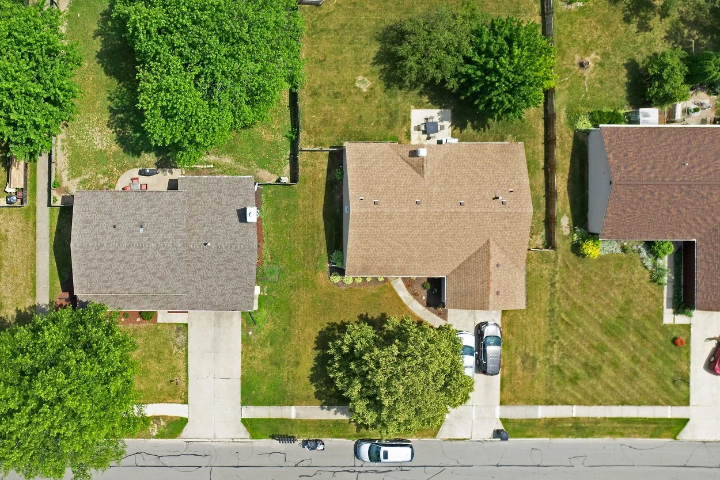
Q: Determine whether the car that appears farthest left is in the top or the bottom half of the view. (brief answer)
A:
bottom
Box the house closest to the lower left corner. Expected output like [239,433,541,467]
[70,175,260,311]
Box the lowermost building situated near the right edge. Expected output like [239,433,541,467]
[589,124,720,311]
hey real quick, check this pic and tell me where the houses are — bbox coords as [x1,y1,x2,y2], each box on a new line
[343,142,533,311]
[589,124,720,311]
[70,175,260,311]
